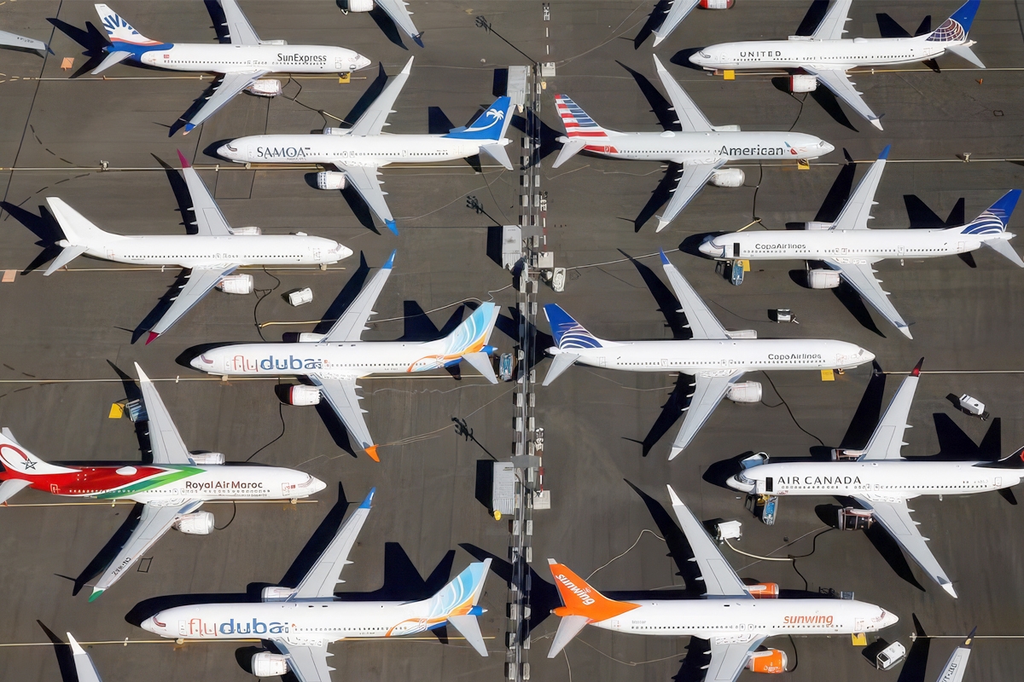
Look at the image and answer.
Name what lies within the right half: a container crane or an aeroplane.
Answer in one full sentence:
The feature located within the right half is an aeroplane.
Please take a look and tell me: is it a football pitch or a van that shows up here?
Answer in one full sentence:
The one in the frame is a van.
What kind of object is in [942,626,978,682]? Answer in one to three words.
airplane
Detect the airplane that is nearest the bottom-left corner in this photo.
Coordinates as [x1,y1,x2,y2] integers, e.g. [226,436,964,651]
[67,632,99,682]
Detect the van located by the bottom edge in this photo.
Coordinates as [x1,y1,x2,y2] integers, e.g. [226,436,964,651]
[874,631,911,662]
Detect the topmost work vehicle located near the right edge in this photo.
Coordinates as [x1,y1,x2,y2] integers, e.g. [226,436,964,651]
[952,392,989,415]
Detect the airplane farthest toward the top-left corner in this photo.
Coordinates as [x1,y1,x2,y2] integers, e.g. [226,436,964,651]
[0,30,54,54]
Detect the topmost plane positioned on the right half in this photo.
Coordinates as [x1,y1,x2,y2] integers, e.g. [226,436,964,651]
[653,0,734,46]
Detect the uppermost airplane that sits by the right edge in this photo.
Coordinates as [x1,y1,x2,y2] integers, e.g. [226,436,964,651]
[687,0,985,130]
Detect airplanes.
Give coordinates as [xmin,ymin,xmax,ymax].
[552,54,837,232]
[0,363,326,600]
[541,247,878,463]
[942,626,978,682]
[215,57,517,235]
[687,0,985,130]
[546,485,900,682]
[653,0,734,46]
[696,143,1024,339]
[347,0,425,48]
[92,0,371,134]
[44,150,352,345]
[188,248,502,462]
[141,486,492,682]
[725,358,1024,597]
[0,30,54,54]
[67,632,99,682]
